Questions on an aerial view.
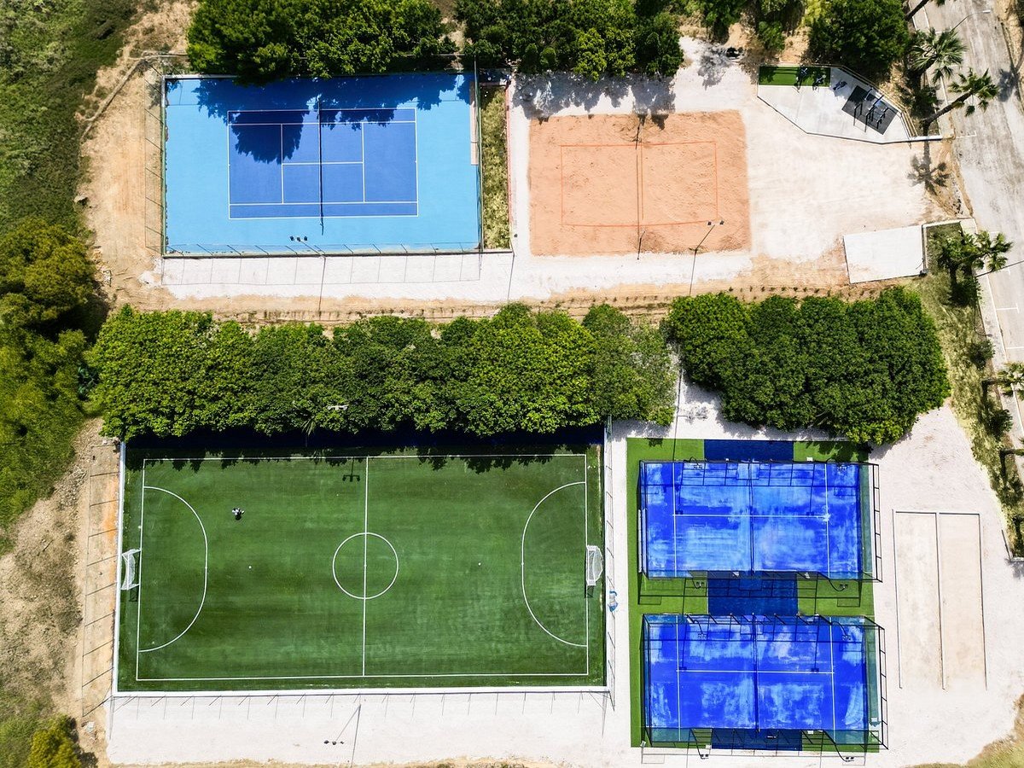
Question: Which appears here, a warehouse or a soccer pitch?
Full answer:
This aerial view contains a soccer pitch.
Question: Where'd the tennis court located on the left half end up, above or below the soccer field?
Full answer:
You can see the tennis court located on the left half above the soccer field in the frame.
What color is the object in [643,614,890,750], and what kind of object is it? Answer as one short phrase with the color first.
blue sports court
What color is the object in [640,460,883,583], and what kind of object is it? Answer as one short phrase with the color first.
blue sports court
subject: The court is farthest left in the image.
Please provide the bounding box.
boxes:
[165,72,479,254]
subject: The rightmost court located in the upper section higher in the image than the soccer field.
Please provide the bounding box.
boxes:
[530,110,750,255]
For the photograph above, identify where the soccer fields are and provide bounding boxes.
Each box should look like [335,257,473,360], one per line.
[116,418,606,692]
